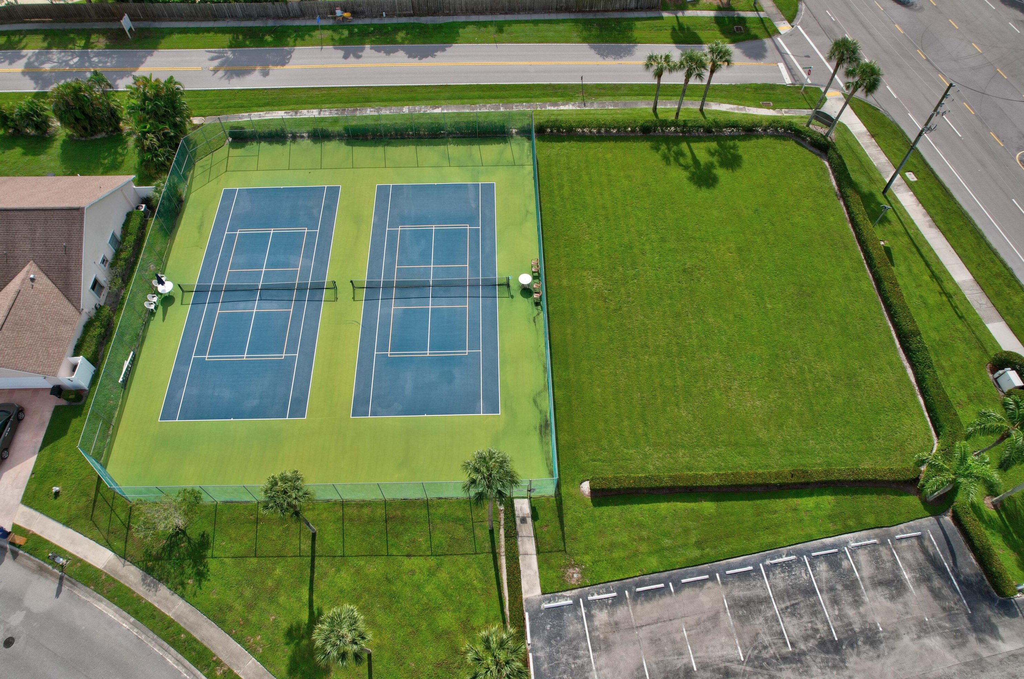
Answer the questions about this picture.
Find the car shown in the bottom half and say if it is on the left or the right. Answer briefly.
left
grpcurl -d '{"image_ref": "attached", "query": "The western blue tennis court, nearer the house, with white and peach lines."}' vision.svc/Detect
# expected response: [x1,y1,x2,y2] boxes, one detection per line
[157,185,341,422]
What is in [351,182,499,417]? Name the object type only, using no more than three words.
tennis court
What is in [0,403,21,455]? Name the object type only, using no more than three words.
car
